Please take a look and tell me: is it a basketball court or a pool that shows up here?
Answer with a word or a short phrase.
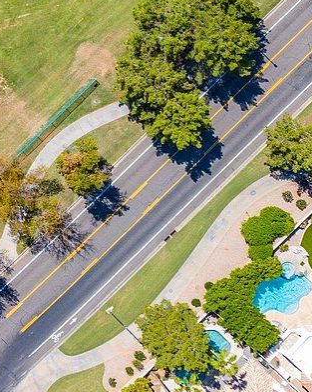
pool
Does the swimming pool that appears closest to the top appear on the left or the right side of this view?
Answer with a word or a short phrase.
right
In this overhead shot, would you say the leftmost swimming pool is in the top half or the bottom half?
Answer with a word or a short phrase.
bottom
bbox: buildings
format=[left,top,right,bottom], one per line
[280,332,312,392]
[207,356,290,392]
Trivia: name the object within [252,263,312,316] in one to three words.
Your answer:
swimming pool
